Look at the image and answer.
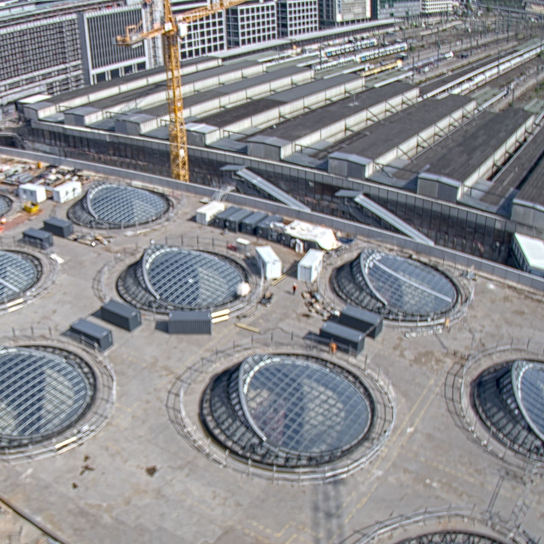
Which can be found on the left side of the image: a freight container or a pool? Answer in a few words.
freight container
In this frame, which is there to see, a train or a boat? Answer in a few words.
train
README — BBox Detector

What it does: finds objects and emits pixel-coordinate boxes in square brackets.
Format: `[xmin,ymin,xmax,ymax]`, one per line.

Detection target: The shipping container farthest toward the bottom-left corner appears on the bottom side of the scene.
[69,318,115,355]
